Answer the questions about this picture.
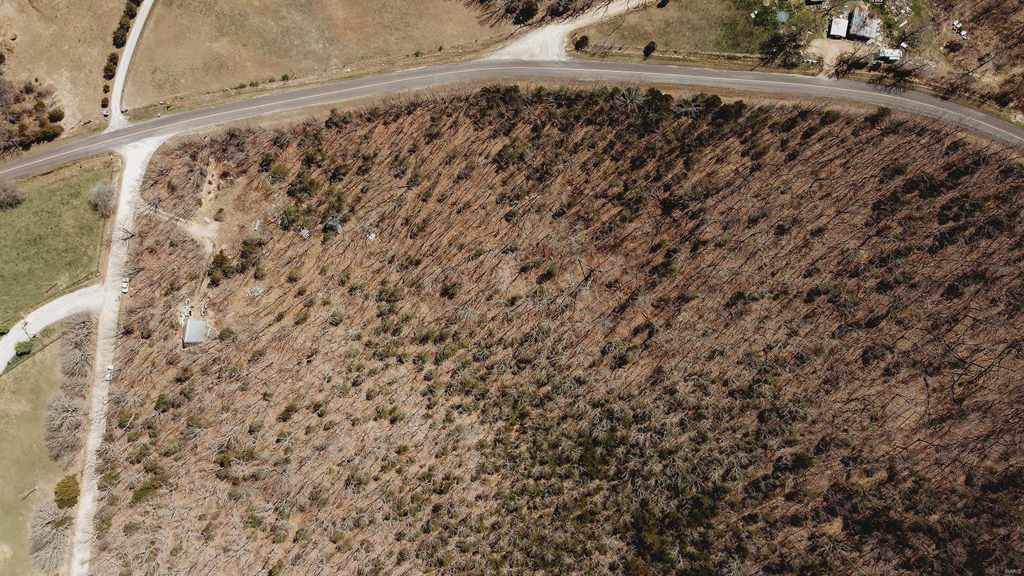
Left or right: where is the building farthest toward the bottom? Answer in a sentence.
The building farthest toward the bottom is on the left side of the image.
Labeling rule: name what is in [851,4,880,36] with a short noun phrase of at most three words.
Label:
house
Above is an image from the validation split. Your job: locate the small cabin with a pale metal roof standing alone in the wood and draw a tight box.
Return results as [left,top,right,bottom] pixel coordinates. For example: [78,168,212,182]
[179,319,204,344]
